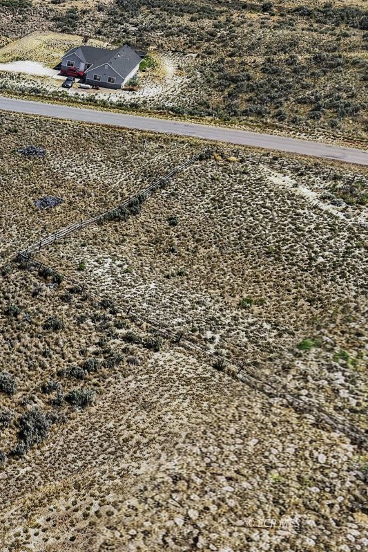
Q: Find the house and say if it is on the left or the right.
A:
left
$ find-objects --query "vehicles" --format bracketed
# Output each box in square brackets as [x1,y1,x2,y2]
[62,76,76,86]
[58,66,87,77]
